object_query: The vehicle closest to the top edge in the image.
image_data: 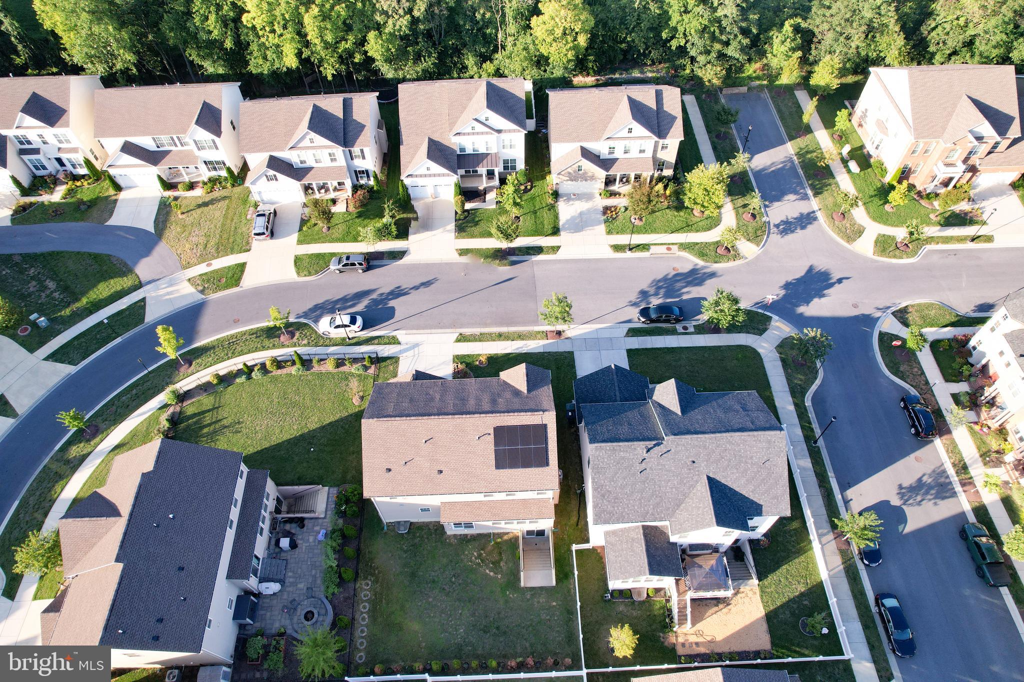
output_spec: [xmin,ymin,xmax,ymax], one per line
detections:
[254,207,275,236]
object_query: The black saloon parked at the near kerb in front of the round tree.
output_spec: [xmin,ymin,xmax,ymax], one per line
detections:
[637,304,683,324]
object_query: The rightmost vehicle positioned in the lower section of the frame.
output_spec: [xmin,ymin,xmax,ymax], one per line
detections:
[962,525,1015,590]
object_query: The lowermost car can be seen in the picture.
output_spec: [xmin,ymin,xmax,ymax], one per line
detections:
[876,598,918,662]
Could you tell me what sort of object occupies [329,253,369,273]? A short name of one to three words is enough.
car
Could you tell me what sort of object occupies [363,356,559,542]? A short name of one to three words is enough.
house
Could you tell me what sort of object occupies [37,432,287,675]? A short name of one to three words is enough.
house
